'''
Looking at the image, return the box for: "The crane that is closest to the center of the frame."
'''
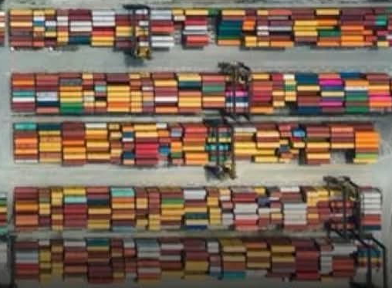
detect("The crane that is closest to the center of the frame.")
[191,113,231,185]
